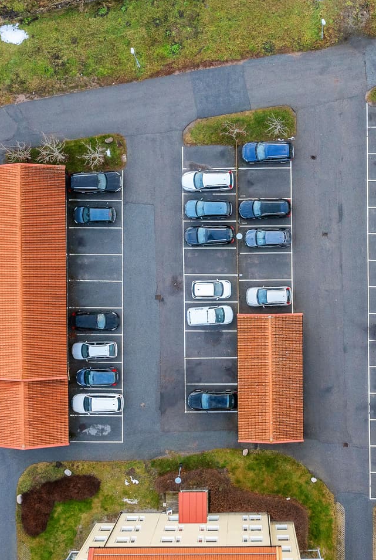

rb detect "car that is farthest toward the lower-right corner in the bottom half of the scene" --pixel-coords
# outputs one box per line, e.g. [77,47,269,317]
[187,389,239,413]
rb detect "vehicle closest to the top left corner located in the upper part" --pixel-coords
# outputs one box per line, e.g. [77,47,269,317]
[69,171,122,195]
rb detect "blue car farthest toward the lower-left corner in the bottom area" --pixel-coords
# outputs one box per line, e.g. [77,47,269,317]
[76,366,119,387]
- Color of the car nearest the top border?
blue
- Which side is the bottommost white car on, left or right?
left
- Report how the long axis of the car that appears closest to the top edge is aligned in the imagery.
horizontally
